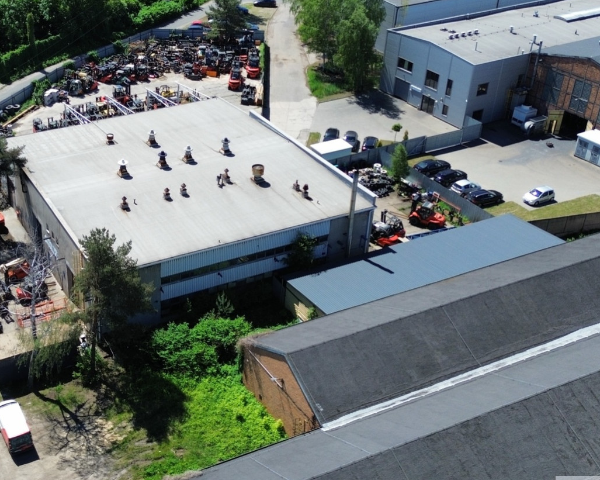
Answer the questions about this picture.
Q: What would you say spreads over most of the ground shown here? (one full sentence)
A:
What you mostly see from above here is buildings.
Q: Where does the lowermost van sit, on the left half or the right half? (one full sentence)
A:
It is on the left.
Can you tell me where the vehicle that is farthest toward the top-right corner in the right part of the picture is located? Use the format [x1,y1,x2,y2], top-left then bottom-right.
[522,185,559,204]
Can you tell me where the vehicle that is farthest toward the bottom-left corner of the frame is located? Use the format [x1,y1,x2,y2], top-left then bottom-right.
[0,397,36,450]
